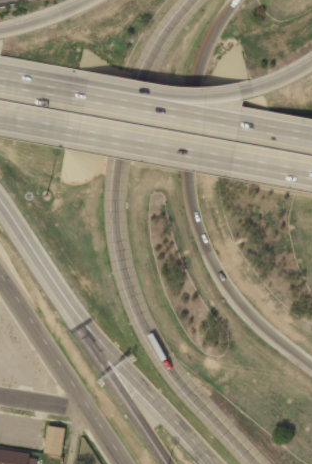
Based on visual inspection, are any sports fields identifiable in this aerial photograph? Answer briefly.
No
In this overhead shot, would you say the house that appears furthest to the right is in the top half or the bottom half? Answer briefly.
bottom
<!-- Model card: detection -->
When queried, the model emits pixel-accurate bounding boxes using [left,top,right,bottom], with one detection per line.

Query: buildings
[0,450,38,464]
[44,426,66,461]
